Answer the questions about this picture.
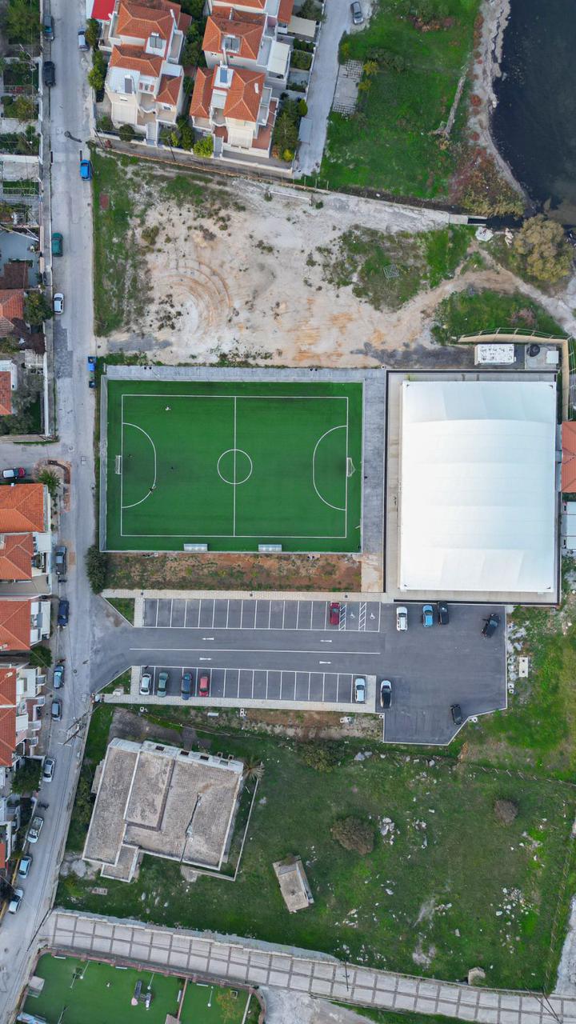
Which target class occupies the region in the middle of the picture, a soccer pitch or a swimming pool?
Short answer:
soccer pitch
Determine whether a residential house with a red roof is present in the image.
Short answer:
Yes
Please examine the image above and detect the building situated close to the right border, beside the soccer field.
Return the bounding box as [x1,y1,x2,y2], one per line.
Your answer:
[385,369,561,607]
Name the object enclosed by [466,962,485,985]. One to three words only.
shed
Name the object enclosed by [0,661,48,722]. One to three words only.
house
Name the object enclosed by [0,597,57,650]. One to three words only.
house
